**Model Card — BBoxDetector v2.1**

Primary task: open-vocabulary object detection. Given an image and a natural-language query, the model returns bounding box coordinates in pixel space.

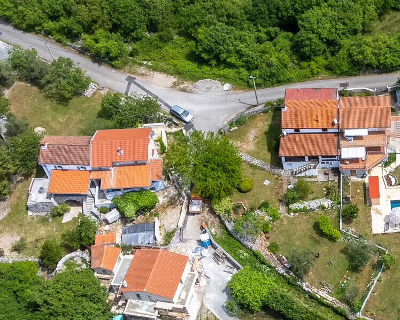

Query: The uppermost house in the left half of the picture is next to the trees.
[26,127,167,215]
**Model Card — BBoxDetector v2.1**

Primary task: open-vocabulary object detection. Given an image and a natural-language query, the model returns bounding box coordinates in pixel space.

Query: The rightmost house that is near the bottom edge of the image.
[110,248,204,320]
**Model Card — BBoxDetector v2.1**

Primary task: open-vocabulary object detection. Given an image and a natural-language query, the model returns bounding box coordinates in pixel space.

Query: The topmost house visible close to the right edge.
[279,87,400,178]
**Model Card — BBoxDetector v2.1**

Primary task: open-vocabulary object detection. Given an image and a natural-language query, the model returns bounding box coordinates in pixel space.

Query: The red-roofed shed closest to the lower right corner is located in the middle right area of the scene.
[367,176,380,207]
